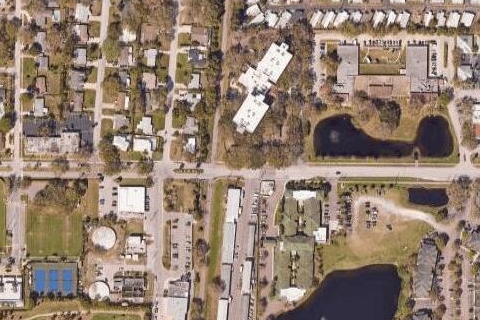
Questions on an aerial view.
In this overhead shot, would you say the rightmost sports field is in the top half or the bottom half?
bottom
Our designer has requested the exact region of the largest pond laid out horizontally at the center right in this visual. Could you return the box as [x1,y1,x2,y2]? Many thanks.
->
[314,114,453,158]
